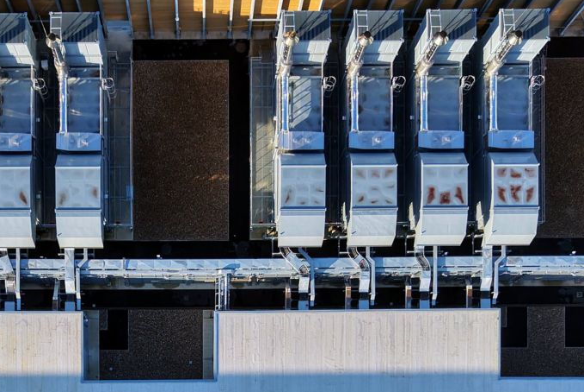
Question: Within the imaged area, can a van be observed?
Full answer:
No, the photo shows no van.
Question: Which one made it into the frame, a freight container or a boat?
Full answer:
Visible in the photo is a freight container.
